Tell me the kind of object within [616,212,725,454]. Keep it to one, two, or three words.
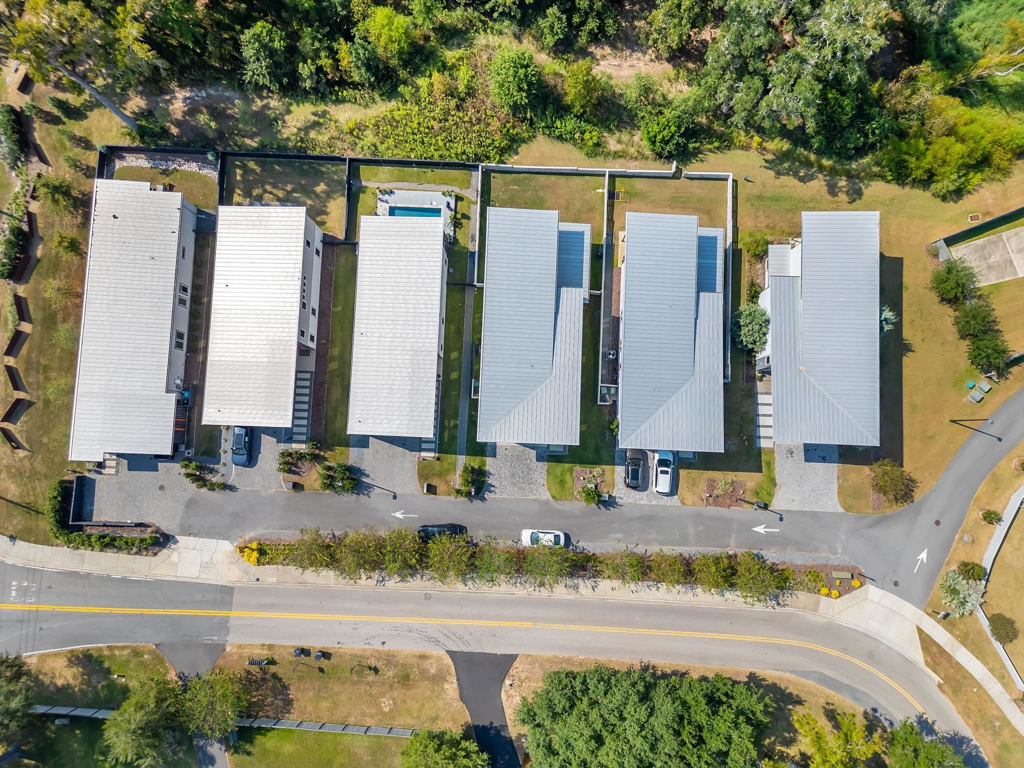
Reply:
house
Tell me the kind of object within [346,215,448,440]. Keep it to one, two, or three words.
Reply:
house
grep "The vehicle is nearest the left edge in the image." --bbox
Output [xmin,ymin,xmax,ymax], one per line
[228,427,256,468]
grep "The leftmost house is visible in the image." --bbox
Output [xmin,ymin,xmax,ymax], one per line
[65,179,196,461]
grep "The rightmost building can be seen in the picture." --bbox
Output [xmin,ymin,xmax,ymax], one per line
[756,210,882,447]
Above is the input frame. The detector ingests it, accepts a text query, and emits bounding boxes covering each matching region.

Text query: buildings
[65,179,196,461]
[346,215,448,440]
[616,212,725,454]
[200,206,323,428]
[756,210,882,447]
[476,207,592,447]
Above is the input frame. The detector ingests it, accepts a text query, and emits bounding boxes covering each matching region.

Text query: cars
[520,526,565,549]
[622,450,644,491]
[417,522,468,545]
[228,427,256,468]
[650,451,674,495]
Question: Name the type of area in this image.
residential area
